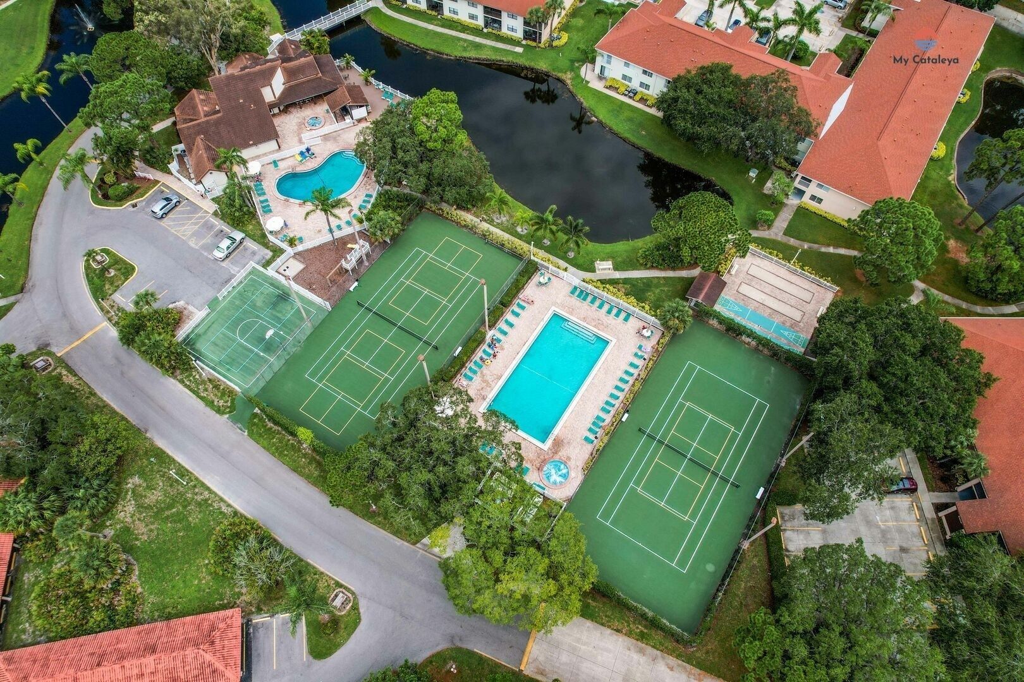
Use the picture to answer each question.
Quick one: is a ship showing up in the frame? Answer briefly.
No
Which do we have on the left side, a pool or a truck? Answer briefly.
pool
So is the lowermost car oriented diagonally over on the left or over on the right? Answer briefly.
left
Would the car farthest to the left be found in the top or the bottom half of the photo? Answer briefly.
top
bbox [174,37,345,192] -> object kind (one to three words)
building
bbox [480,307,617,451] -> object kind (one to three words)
swimming pool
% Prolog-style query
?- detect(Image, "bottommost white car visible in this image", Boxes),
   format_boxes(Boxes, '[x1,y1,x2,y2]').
[209,228,245,259]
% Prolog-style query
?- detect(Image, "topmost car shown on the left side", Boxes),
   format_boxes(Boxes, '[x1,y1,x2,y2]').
[148,191,179,216]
